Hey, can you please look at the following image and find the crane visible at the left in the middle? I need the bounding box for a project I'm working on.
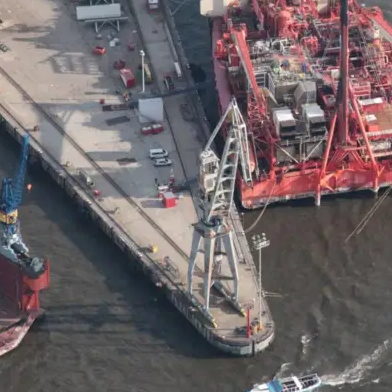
[0,137,40,271]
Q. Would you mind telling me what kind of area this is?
port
